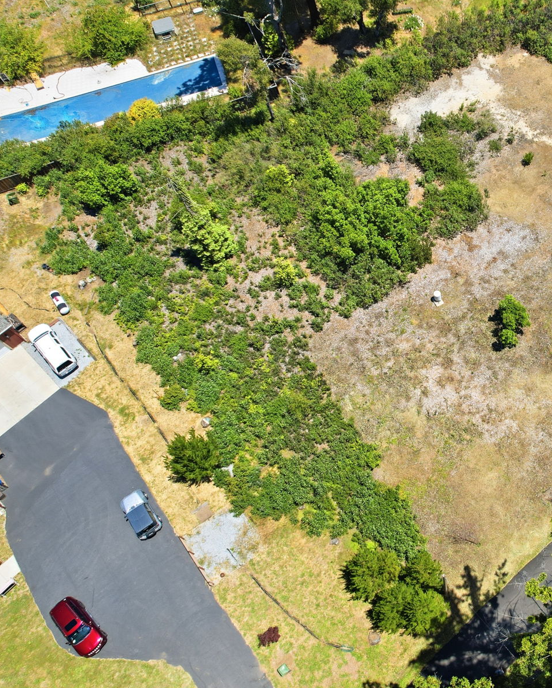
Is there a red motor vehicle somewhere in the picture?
Yes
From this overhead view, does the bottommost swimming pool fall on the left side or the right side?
left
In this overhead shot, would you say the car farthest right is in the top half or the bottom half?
bottom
